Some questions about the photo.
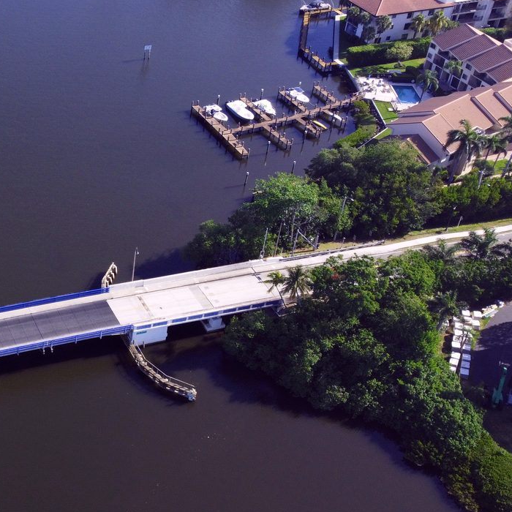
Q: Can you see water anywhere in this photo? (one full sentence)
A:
Yes, some water is visible.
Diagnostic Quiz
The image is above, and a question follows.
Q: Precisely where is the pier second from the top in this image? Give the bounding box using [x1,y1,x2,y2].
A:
[190,81,366,160]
